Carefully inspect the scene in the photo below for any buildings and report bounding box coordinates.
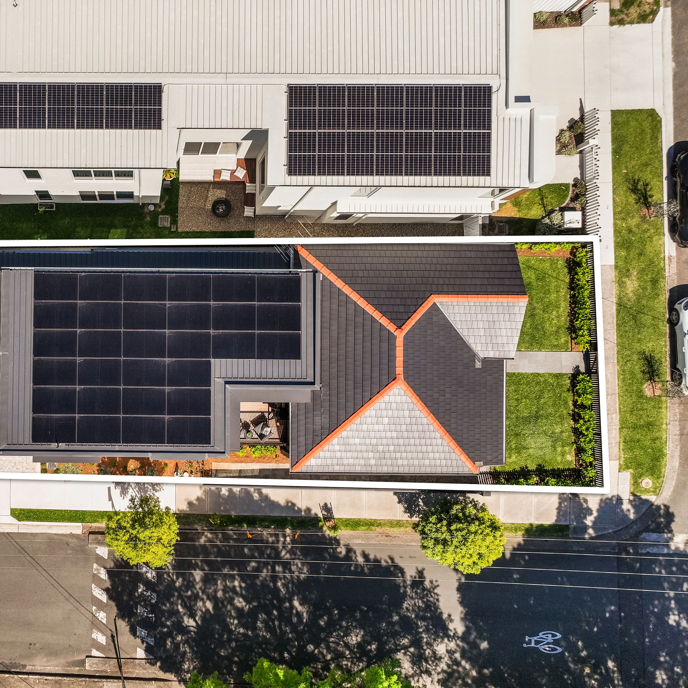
[0,242,530,475]
[0,0,555,228]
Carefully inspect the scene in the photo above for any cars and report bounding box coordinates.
[676,299,688,393]
[668,152,688,252]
